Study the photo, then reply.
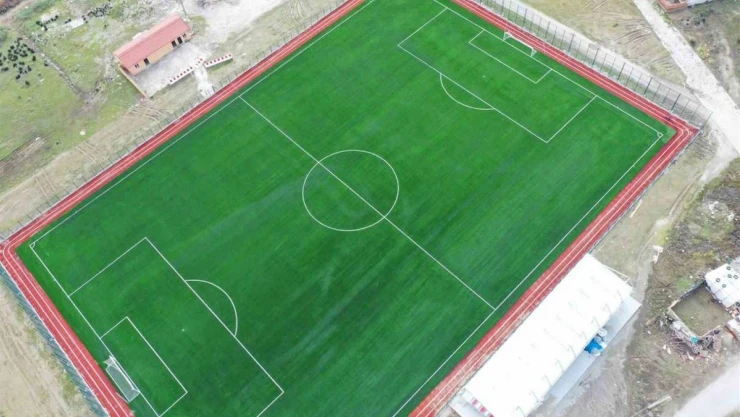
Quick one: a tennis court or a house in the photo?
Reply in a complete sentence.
The image shows a house.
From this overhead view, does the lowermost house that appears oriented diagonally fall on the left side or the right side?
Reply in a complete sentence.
It is on the left.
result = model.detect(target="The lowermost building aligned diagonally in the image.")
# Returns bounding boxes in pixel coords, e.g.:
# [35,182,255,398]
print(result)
[113,15,192,74]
